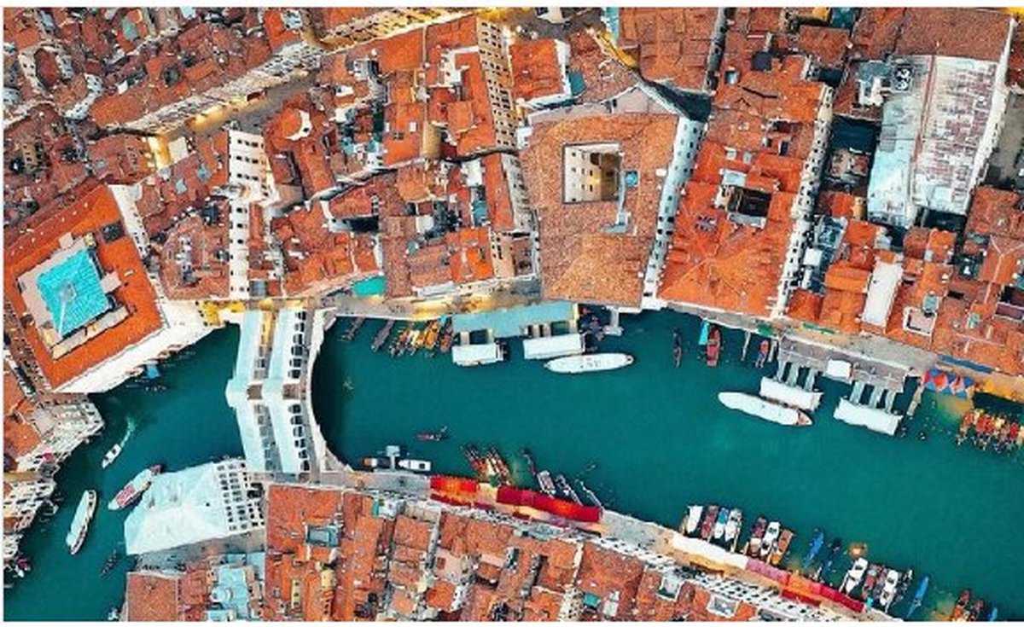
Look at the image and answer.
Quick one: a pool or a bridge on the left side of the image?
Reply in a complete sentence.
You can see a bridge on the left side of the image.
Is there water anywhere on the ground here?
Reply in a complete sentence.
Yes, water shows up in the scene.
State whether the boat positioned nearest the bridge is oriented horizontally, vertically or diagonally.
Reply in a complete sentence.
The boat positioned nearest the bridge has been laid out diagonally relative to the frame.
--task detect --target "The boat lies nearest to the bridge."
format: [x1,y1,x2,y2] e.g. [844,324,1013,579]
[341,317,365,340]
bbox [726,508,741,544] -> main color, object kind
white boat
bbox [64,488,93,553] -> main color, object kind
white boat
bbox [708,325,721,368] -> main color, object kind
red boat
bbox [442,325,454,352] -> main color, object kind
red boat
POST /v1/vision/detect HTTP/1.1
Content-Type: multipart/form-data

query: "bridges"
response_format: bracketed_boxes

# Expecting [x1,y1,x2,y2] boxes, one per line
[221,300,340,483]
